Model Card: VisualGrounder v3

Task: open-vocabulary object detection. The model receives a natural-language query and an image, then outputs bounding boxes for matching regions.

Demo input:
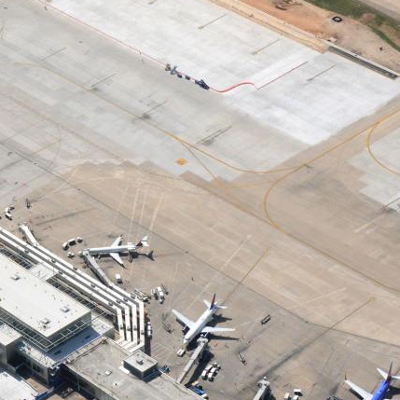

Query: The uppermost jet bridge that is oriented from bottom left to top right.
[175,341,205,385]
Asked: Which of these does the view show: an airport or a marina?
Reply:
airport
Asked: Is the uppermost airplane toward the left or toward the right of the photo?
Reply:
left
